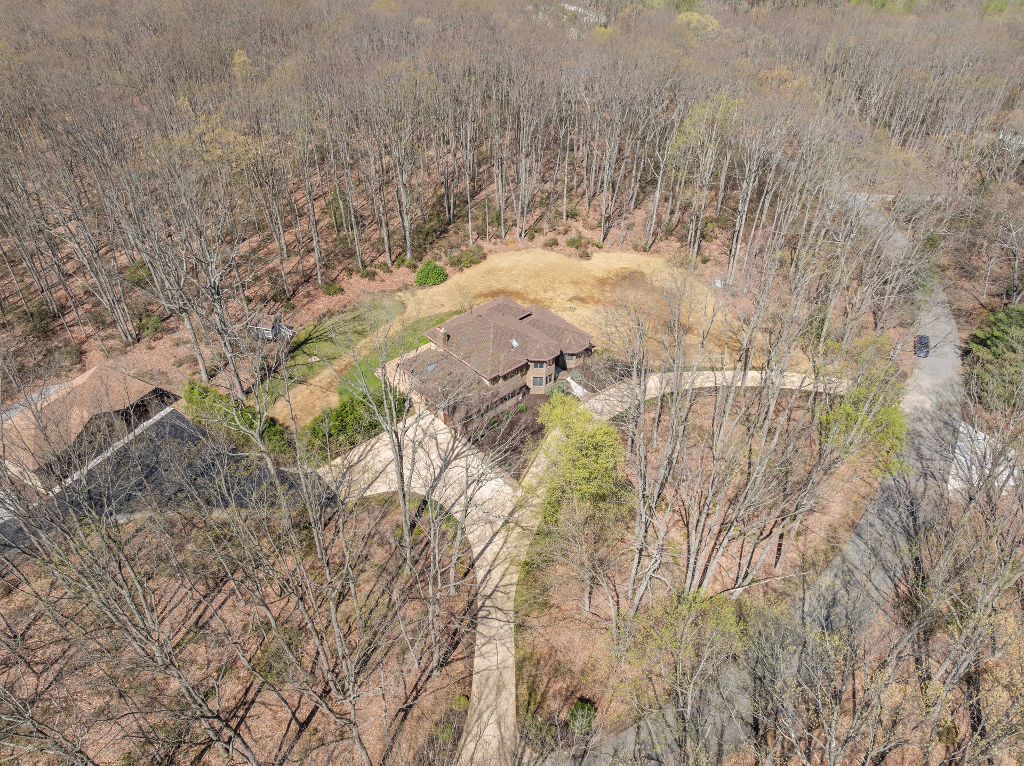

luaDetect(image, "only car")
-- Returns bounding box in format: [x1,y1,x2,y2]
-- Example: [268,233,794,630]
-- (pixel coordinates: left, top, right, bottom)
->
[915,331,934,357]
